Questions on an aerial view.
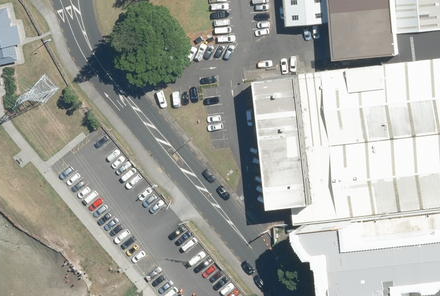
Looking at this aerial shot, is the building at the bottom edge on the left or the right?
right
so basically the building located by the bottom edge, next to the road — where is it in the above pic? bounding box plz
[289,210,440,296]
